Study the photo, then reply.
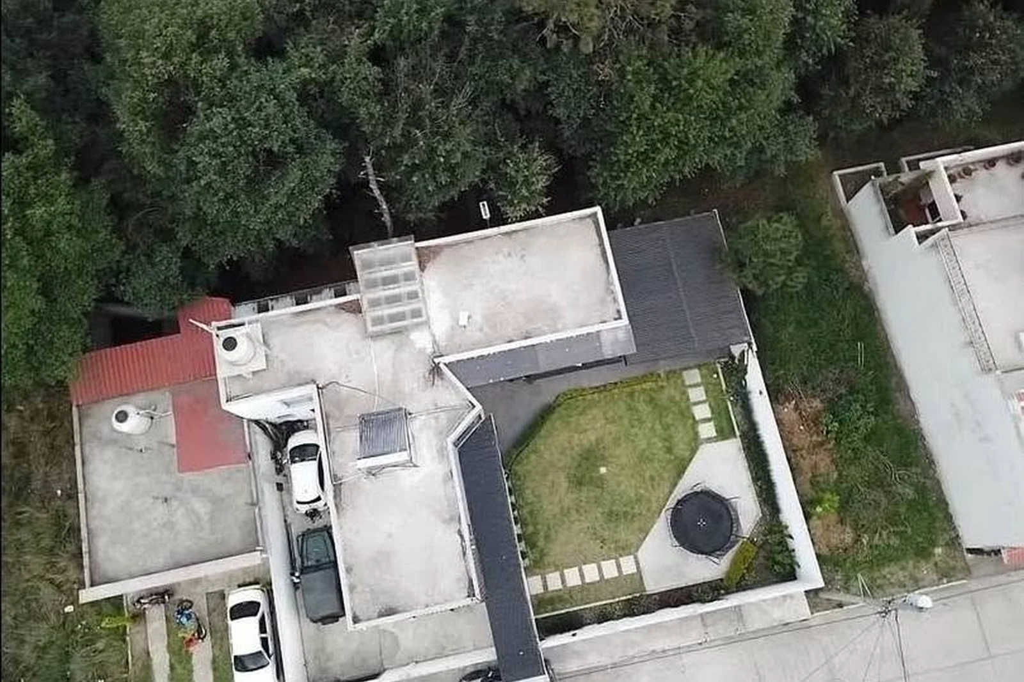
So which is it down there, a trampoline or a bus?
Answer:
trampoline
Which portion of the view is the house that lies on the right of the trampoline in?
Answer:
right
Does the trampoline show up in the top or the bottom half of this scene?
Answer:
bottom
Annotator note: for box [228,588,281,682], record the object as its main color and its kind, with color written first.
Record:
white car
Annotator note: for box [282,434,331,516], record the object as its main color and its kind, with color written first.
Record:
white car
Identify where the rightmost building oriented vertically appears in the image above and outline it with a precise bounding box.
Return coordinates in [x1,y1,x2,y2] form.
[827,138,1024,568]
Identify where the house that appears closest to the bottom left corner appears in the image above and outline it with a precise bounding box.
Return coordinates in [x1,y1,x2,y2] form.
[71,294,268,603]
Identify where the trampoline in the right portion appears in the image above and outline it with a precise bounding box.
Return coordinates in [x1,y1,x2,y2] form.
[667,483,748,566]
